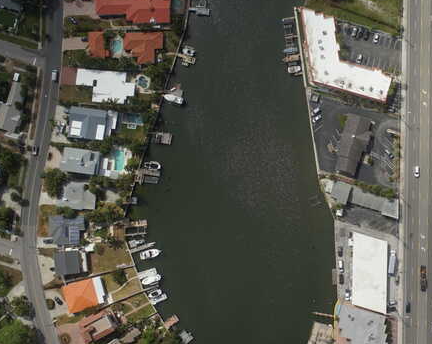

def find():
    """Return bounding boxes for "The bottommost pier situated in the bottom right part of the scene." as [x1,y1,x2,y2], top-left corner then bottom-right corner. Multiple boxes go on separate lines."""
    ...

[309,321,334,344]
